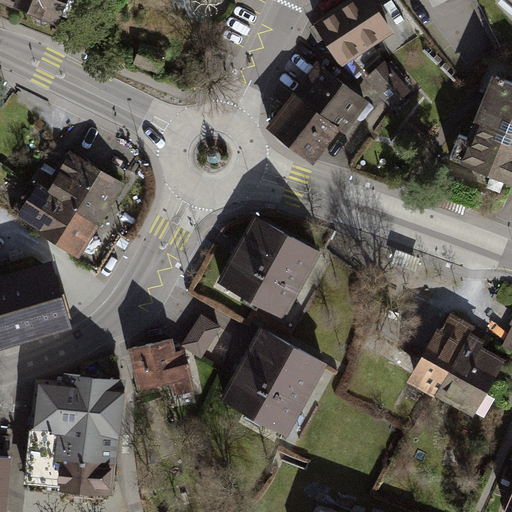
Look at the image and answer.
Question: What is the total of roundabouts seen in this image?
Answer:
one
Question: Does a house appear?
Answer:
Yes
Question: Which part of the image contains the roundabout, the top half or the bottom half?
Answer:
top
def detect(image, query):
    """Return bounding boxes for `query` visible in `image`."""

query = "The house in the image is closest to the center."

[217,214,320,318]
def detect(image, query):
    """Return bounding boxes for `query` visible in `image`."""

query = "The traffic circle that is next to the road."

[144,82,294,232]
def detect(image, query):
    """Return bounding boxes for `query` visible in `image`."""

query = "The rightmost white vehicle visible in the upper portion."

[384,0,404,24]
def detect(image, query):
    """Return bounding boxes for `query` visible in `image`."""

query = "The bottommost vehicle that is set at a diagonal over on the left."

[101,256,118,276]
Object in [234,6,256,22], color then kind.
white car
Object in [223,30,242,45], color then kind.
white car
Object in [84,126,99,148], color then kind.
black car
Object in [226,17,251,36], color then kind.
white vehicle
